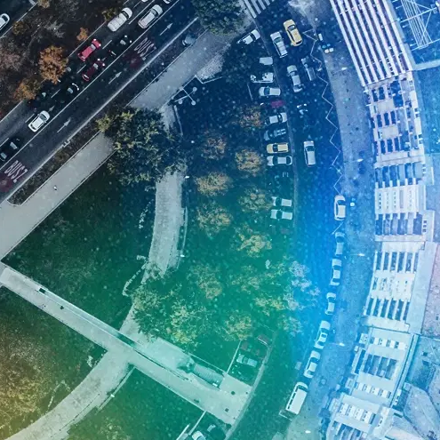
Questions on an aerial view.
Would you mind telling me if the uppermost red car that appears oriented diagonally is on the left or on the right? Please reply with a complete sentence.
You can find the uppermost red car that appears oriented diagonally on the left side of the picture.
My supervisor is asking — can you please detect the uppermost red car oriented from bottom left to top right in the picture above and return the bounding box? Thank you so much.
[78,38,103,62]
